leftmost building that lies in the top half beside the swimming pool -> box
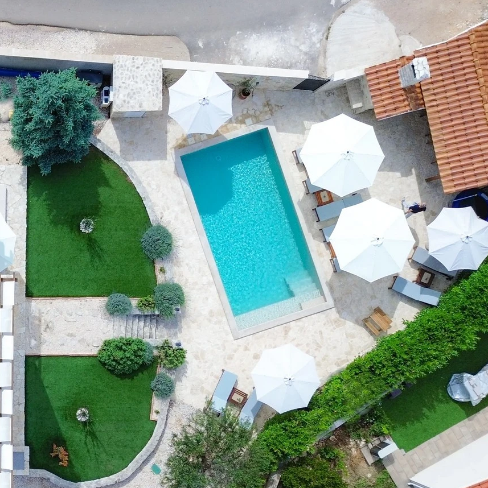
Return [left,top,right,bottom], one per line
[108,57,162,124]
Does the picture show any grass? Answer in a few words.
Yes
